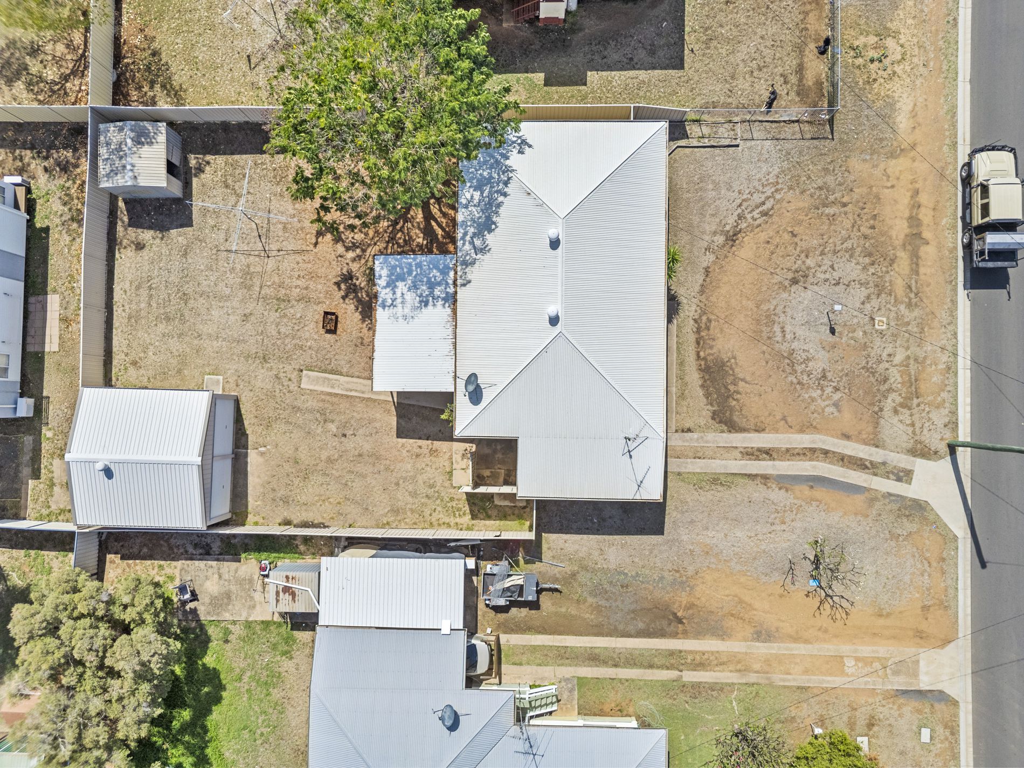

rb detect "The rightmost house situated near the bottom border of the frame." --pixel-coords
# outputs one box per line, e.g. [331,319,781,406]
[306,606,670,768]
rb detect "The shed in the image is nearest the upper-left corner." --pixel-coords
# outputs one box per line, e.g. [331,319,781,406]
[100,121,181,197]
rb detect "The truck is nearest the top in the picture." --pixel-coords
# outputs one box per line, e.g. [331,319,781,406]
[956,132,1024,270]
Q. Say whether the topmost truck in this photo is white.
Yes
